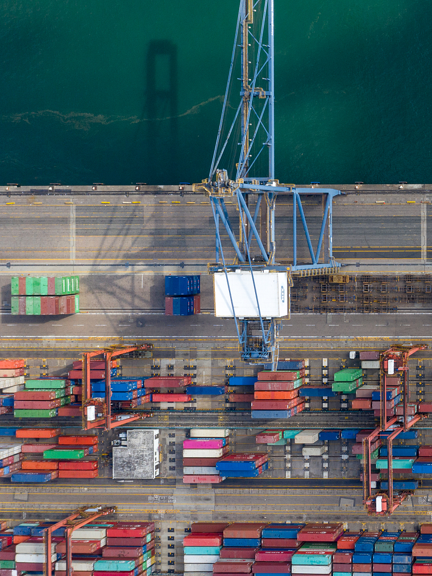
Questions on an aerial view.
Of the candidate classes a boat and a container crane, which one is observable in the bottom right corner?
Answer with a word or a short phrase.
container crane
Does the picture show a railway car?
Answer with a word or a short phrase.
No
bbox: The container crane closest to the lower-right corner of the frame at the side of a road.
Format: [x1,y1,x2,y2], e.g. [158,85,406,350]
[363,423,417,518]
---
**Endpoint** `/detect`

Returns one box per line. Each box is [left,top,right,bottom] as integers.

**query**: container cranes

[81,344,156,437]
[189,0,351,371]
[363,423,417,518]
[40,507,117,576]
[379,344,432,438]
